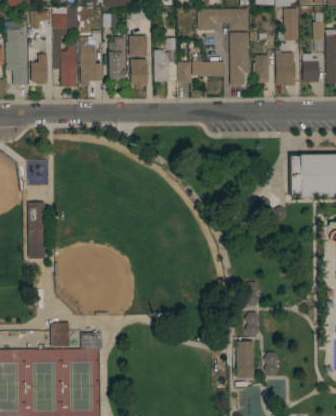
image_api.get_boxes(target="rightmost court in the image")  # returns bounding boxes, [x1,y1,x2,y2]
[71,363,92,412]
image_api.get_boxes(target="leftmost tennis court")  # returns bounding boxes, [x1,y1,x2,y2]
[0,363,19,412]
